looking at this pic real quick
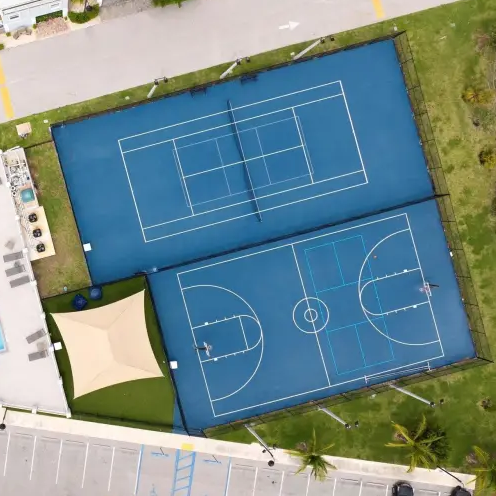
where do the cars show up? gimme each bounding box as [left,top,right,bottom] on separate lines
[390,481,411,496]
[446,486,472,496]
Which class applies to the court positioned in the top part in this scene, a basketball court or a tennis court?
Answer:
tennis court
